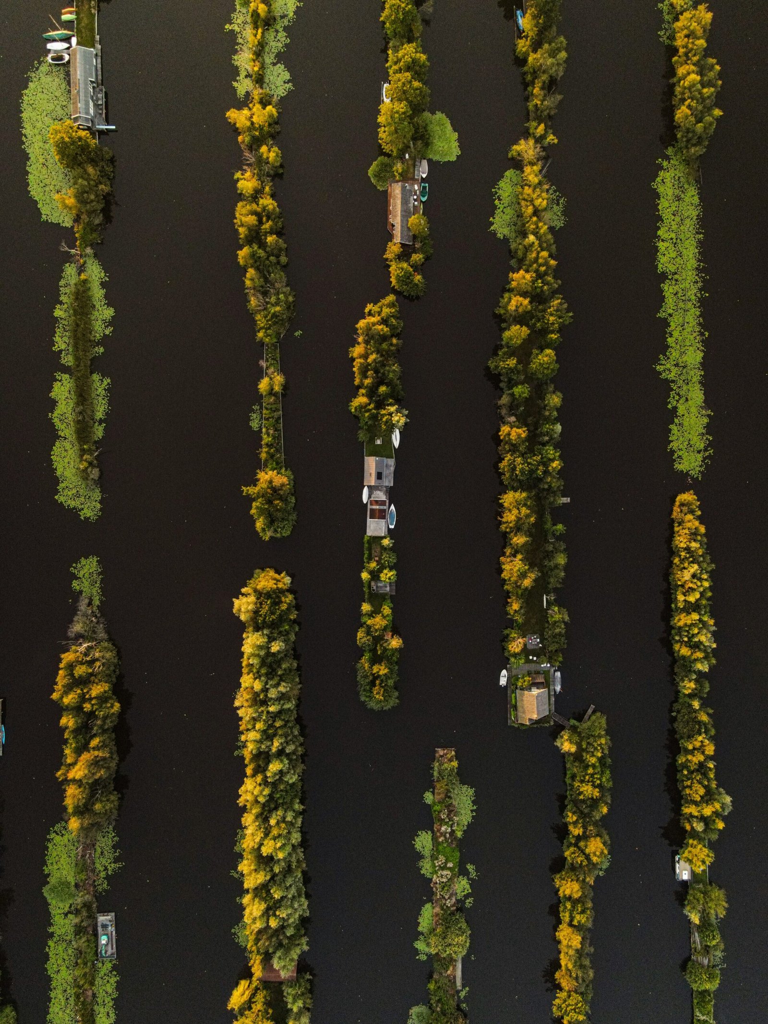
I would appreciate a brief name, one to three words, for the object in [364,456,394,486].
house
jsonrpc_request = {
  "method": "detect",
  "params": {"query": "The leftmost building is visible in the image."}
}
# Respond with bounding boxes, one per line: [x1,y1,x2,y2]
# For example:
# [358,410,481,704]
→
[70,45,97,128]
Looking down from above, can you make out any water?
Yes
